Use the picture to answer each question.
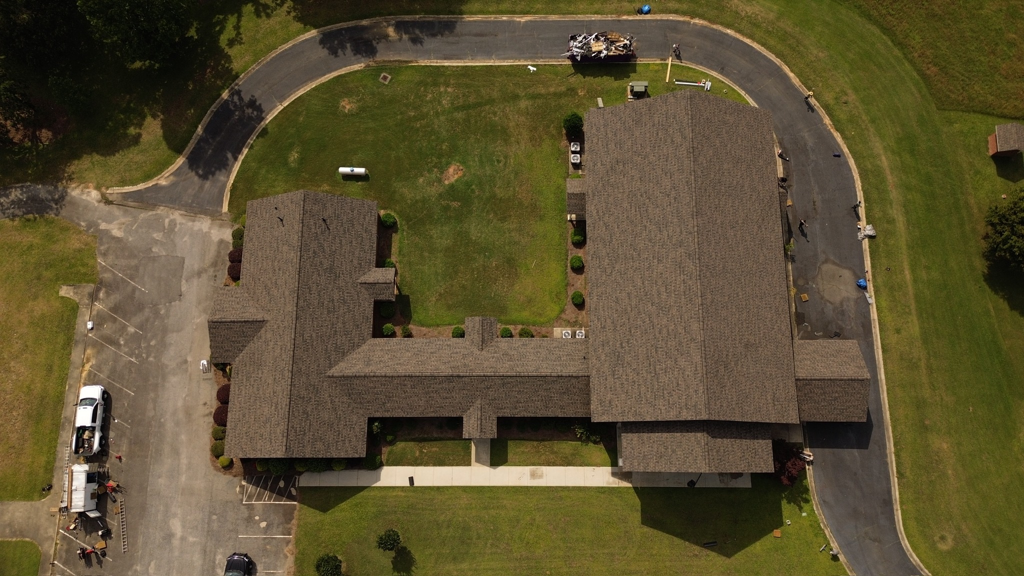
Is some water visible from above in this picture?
No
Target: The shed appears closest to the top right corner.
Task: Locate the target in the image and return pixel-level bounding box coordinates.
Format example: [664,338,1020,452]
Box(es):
[984,119,1024,159]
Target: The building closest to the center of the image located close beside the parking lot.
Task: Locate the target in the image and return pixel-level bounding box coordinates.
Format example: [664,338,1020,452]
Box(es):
[205,85,871,472]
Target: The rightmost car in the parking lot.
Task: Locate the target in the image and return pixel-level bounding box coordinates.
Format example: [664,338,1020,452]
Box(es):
[218,552,250,576]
